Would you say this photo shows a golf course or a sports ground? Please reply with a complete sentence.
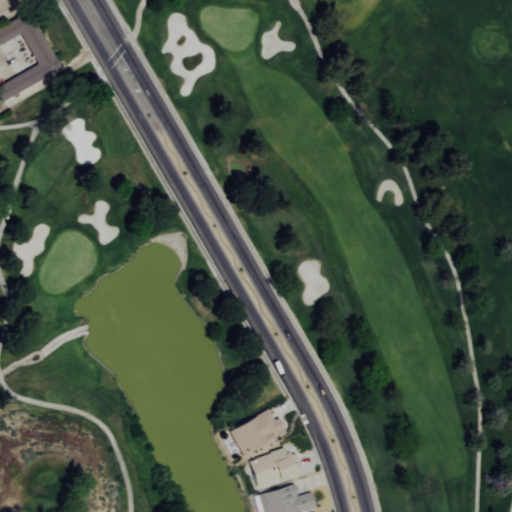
The area seen from above is a golf course.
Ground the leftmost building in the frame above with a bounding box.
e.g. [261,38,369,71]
[0,11,62,102]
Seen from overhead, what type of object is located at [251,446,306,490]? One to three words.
house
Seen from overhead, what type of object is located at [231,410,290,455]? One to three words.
house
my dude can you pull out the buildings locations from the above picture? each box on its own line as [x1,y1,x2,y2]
[251,446,306,490]
[231,410,290,455]
[258,486,317,512]
[0,11,62,102]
